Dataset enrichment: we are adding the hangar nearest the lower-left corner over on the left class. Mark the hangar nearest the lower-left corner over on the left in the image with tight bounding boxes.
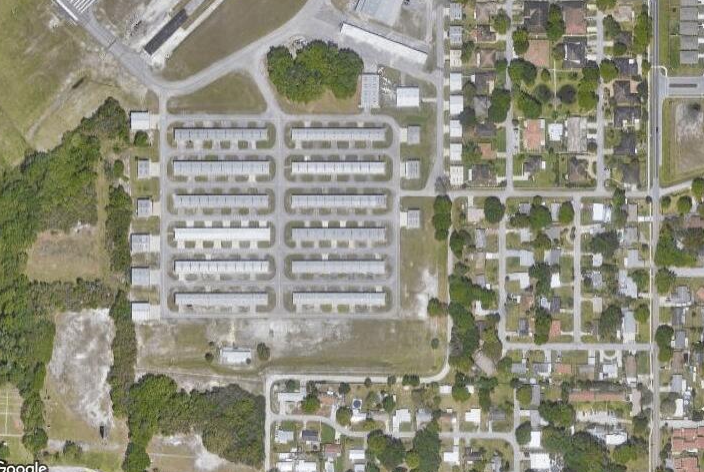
[132,302,149,321]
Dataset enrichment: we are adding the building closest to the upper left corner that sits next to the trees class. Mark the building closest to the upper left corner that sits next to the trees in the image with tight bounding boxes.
[131,112,149,130]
